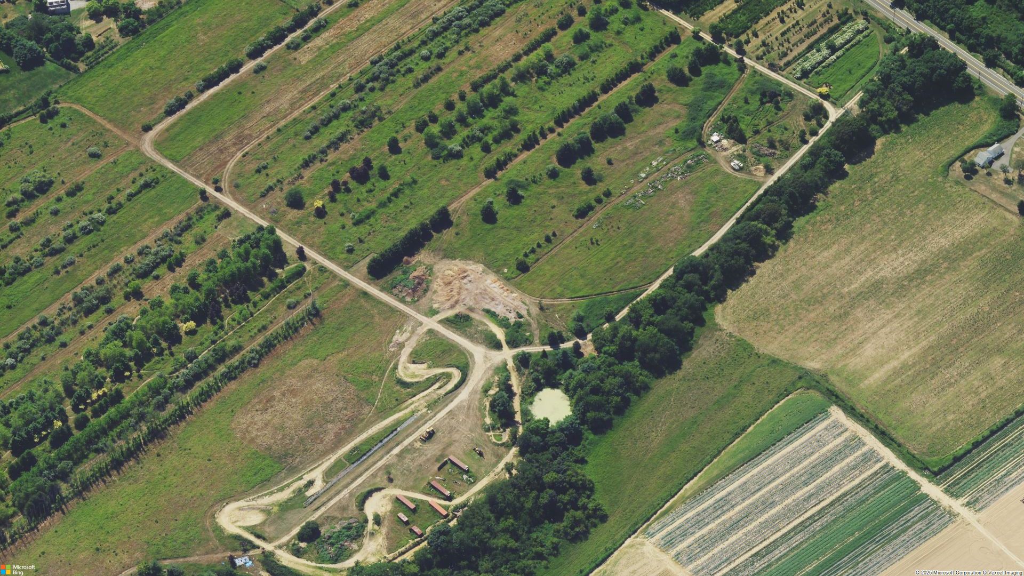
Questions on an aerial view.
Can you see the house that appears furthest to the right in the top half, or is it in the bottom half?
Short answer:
top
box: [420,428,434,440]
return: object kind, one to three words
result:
vehicle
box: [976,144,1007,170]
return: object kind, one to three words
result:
house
